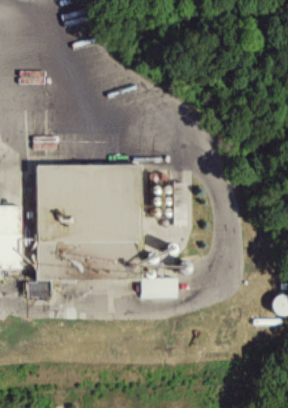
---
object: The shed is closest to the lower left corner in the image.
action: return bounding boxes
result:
[27,282,50,302]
